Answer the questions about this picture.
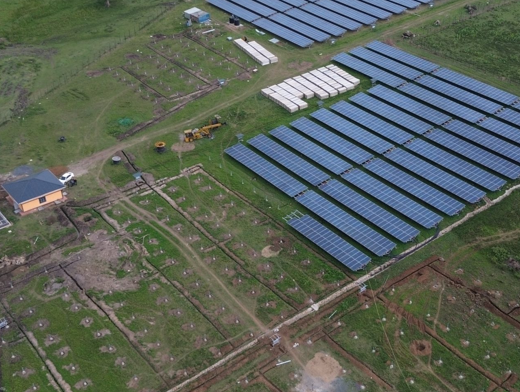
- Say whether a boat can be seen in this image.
No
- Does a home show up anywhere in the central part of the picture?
No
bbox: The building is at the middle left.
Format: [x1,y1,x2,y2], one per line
[1,170,67,216]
